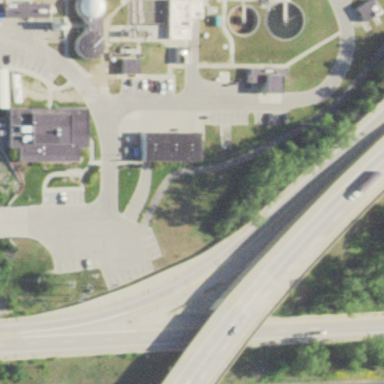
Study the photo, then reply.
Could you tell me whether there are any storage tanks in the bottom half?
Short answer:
No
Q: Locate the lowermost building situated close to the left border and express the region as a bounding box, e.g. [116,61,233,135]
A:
[8,108,90,162]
